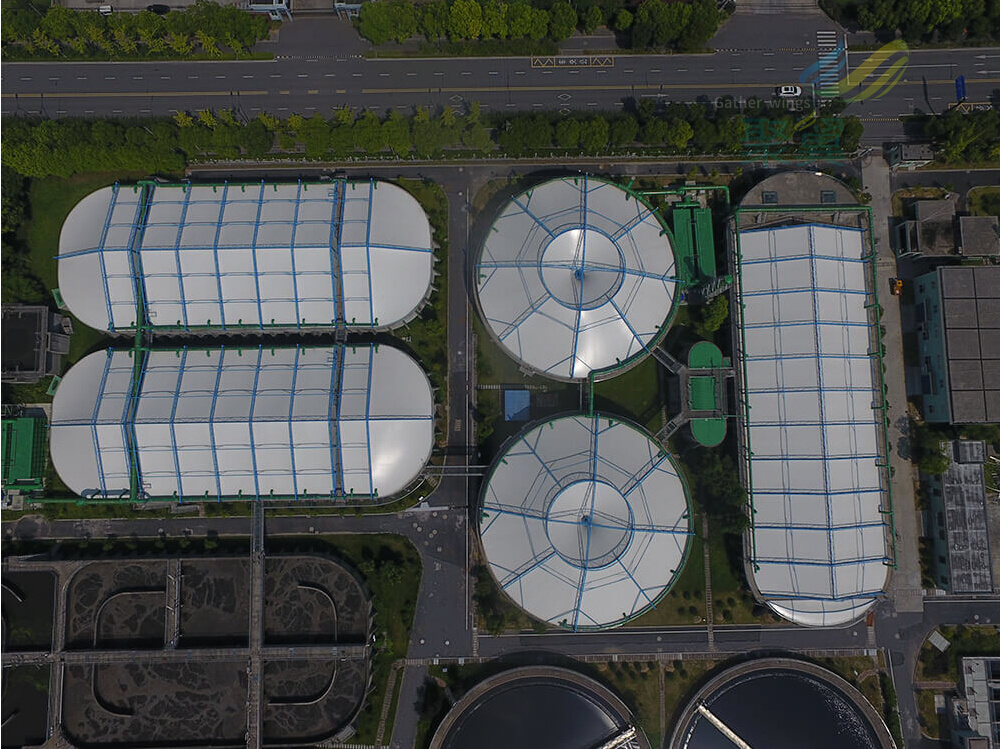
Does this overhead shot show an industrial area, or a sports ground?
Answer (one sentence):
The picture captures an industrial area.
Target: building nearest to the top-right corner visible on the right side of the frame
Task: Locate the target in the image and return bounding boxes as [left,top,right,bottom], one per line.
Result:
[889,142,937,176]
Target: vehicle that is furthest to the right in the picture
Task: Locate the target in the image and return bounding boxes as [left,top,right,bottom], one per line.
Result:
[891,280,904,297]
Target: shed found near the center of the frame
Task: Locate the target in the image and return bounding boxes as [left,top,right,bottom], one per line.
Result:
[505,391,529,420]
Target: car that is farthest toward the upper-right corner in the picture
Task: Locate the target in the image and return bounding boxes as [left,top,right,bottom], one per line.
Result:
[778,83,803,96]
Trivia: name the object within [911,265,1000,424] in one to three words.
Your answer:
building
